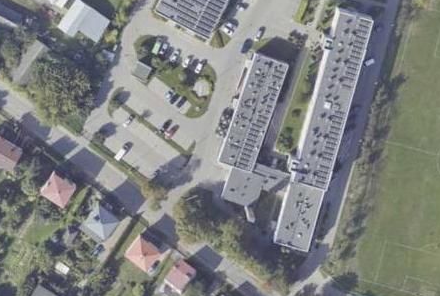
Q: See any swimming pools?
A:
No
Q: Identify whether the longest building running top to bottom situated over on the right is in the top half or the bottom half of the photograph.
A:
top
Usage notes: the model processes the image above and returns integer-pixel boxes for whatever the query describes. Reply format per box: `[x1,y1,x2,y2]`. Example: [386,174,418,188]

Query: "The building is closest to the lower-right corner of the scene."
[272,181,325,252]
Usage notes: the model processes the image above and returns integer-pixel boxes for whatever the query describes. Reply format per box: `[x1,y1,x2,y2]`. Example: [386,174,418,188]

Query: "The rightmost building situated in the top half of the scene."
[289,8,373,191]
